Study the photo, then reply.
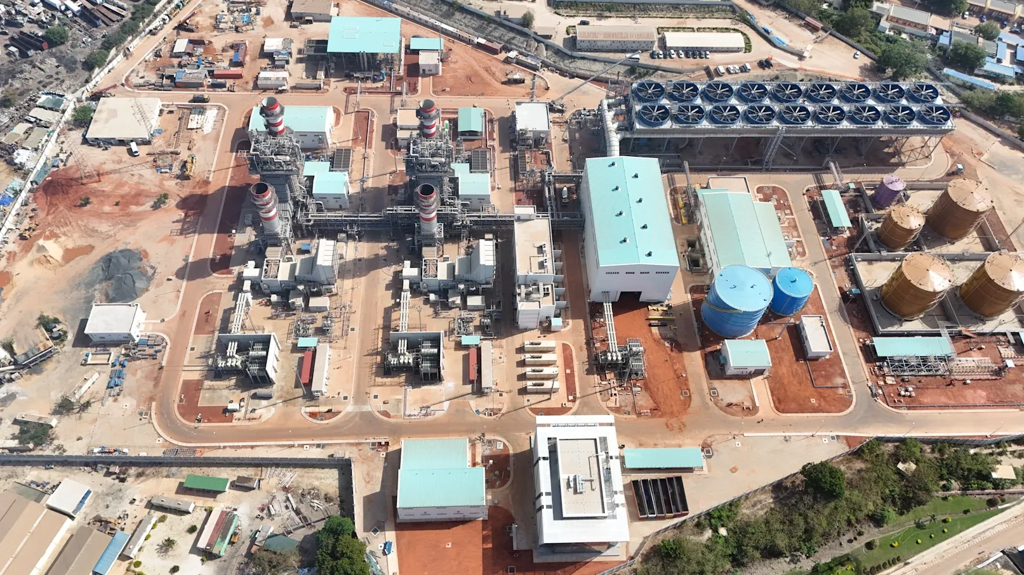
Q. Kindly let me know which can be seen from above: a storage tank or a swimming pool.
storage tank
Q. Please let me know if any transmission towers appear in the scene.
Yes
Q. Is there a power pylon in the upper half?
Yes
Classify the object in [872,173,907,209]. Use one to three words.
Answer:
storage tank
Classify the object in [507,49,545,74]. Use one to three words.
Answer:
building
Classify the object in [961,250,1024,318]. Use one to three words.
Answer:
storage tank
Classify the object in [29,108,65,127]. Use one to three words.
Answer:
shed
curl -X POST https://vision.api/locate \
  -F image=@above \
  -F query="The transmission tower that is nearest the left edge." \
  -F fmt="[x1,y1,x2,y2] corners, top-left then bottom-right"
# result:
[51,122,102,186]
